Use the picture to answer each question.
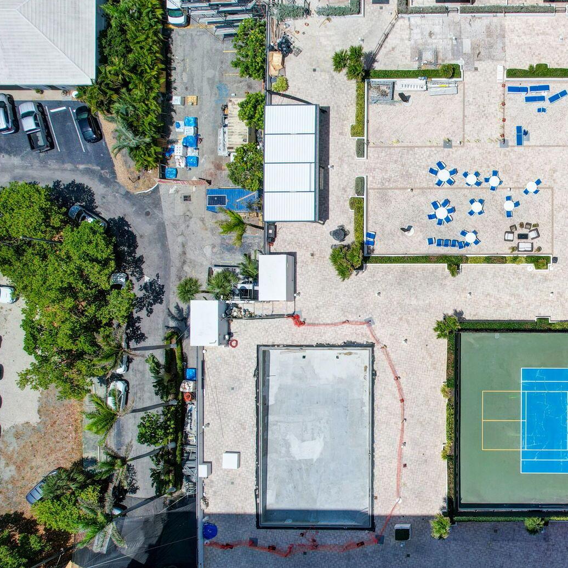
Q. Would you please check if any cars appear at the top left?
Yes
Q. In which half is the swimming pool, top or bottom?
bottom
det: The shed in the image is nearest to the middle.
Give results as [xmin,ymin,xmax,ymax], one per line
[259,254,294,300]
